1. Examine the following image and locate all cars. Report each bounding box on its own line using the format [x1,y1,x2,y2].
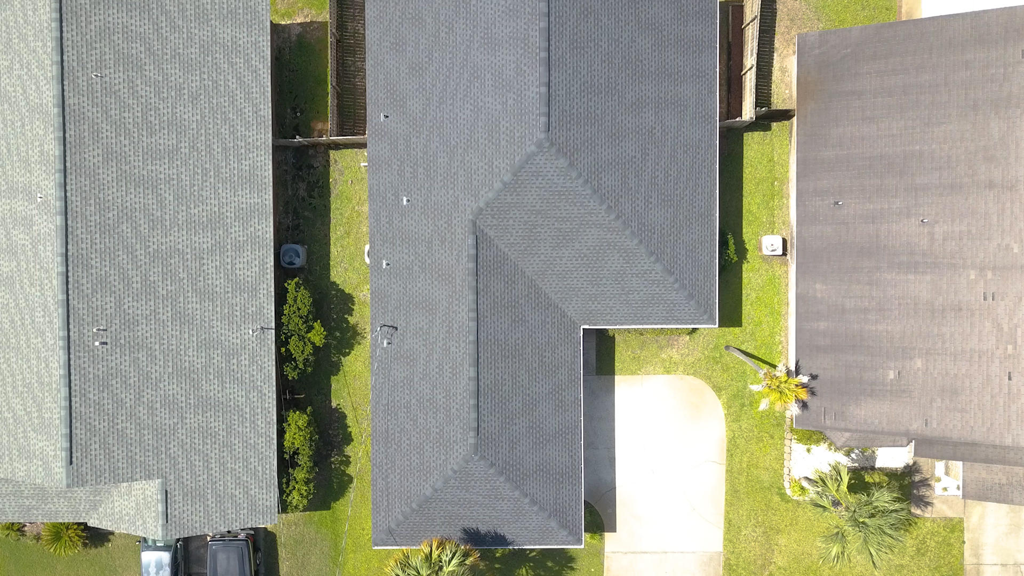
[133,533,189,576]
[208,525,266,576]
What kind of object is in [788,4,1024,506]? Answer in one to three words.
house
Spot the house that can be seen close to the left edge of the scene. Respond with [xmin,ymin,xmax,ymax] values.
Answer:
[0,0,281,539]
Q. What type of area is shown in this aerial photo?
residential area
